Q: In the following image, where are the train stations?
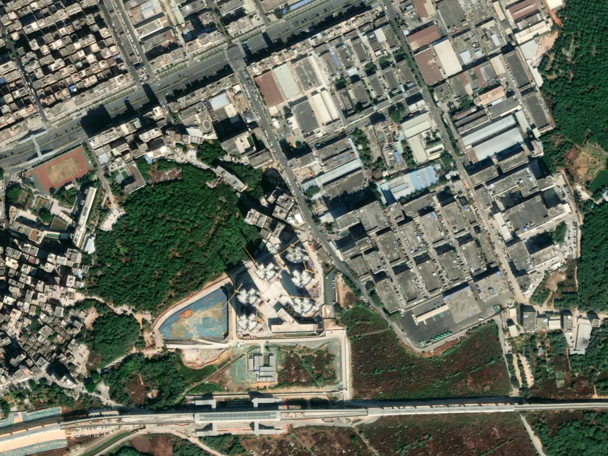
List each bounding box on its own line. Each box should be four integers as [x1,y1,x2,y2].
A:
[193,398,285,436]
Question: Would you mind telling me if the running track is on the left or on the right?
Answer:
left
